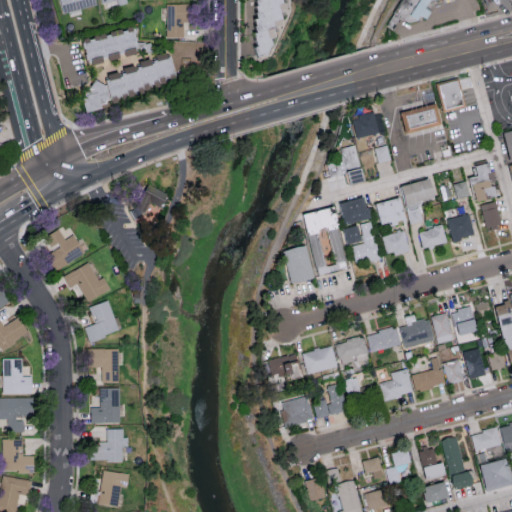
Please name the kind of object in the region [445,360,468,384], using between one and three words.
house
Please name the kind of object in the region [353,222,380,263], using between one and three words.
building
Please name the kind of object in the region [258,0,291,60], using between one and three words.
building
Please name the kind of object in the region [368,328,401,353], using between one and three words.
house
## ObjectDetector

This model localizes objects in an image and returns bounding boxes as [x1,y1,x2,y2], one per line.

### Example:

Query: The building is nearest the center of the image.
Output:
[284,247,315,284]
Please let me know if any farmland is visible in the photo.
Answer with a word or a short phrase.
No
